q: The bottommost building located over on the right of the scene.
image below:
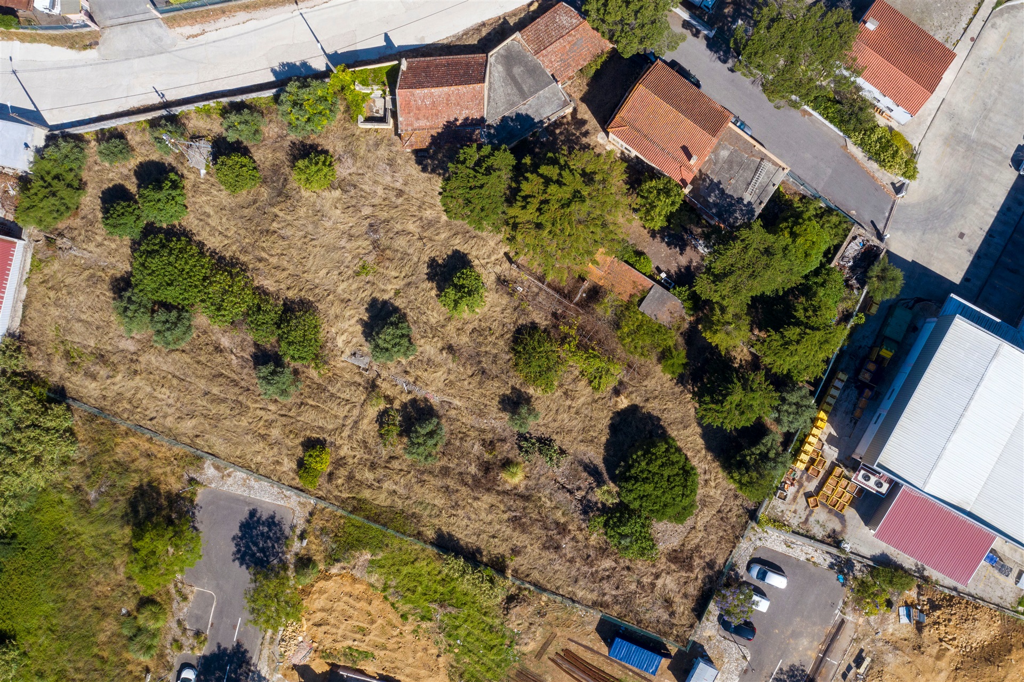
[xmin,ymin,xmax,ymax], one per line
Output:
[679,650,719,682]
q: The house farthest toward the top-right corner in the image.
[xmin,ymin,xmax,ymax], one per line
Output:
[837,0,957,124]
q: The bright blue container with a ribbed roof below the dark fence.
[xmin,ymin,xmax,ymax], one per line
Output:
[605,627,664,677]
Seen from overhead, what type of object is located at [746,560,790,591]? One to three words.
car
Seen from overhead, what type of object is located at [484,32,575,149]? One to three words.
house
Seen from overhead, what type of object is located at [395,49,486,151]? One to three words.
house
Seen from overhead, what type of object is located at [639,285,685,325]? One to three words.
shed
